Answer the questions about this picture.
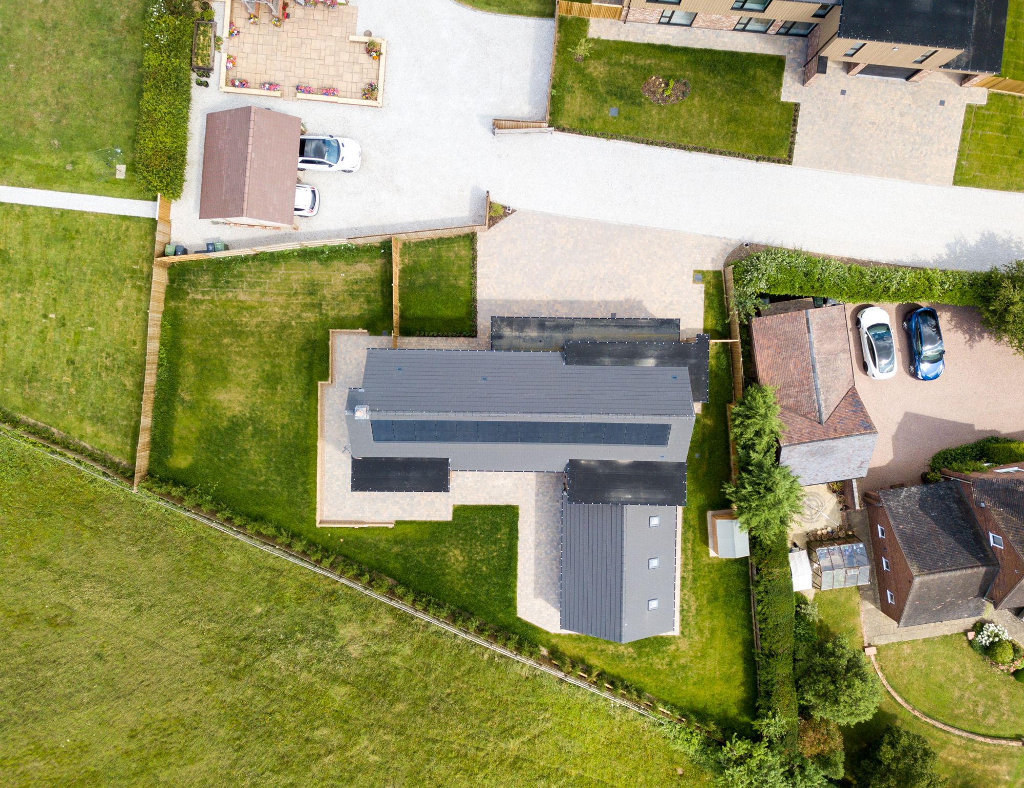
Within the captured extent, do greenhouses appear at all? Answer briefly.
Yes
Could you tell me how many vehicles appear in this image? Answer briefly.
four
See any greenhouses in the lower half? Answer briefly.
Yes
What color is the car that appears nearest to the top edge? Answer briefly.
white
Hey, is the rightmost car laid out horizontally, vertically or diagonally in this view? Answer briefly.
vertically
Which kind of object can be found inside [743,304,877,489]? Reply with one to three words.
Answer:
building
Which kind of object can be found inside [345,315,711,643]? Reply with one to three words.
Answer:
house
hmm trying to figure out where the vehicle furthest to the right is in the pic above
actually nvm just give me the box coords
[905,306,949,381]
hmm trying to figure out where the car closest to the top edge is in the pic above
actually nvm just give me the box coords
[298,134,363,173]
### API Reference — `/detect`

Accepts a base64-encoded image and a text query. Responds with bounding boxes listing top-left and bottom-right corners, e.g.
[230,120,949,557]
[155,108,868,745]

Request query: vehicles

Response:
[298,134,363,173]
[905,306,949,381]
[856,306,895,381]
[294,185,323,218]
